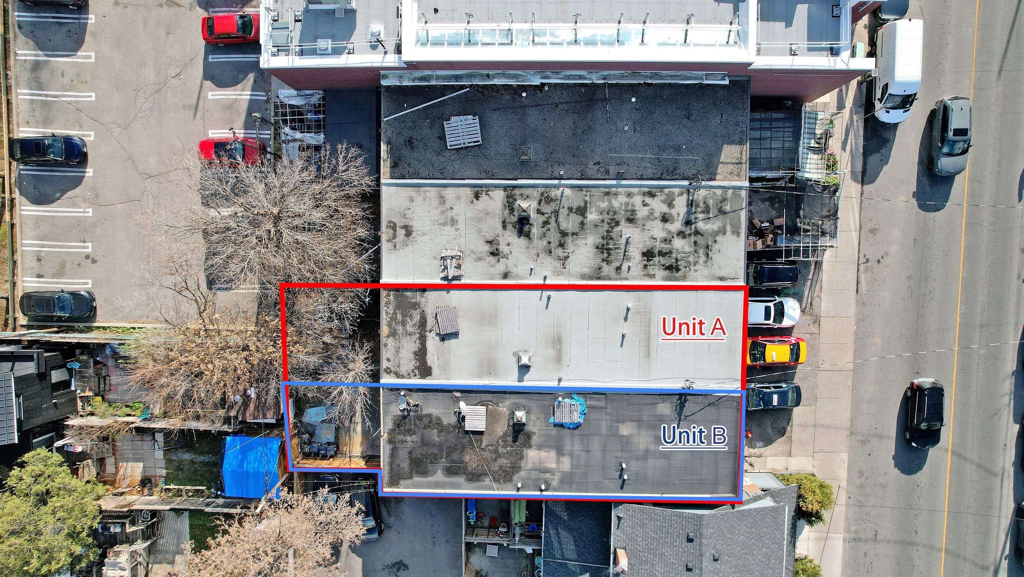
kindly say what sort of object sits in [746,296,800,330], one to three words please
car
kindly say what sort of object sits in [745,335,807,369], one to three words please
car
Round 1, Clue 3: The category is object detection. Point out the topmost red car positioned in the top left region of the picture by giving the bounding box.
[201,10,260,46]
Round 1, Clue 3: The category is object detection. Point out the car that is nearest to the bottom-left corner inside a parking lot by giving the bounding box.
[17,287,101,321]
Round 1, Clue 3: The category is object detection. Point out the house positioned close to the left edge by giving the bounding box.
[0,343,79,445]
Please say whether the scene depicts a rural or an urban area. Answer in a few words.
urban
